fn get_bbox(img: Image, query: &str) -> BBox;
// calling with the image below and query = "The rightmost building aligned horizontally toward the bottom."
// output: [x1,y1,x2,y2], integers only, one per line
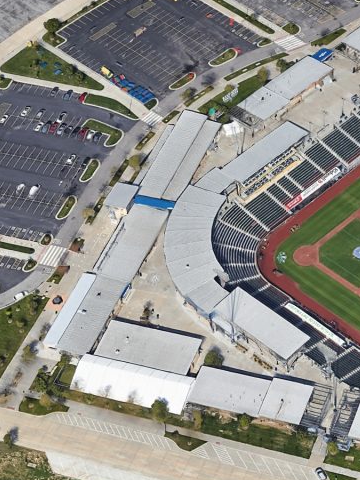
[188,366,314,431]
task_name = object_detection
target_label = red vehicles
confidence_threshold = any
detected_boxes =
[78,128,89,139]
[77,93,88,103]
[49,123,59,133]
